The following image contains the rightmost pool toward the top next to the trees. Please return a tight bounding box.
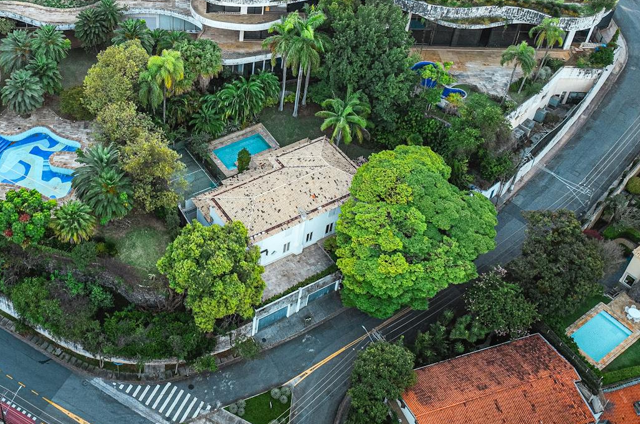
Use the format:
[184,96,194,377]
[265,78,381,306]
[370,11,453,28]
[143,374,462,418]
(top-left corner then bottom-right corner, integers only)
[205,123,279,179]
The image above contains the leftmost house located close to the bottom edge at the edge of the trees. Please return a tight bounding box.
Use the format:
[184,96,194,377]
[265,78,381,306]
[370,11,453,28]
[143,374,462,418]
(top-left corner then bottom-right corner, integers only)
[397,333,599,424]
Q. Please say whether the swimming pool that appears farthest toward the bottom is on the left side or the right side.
right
